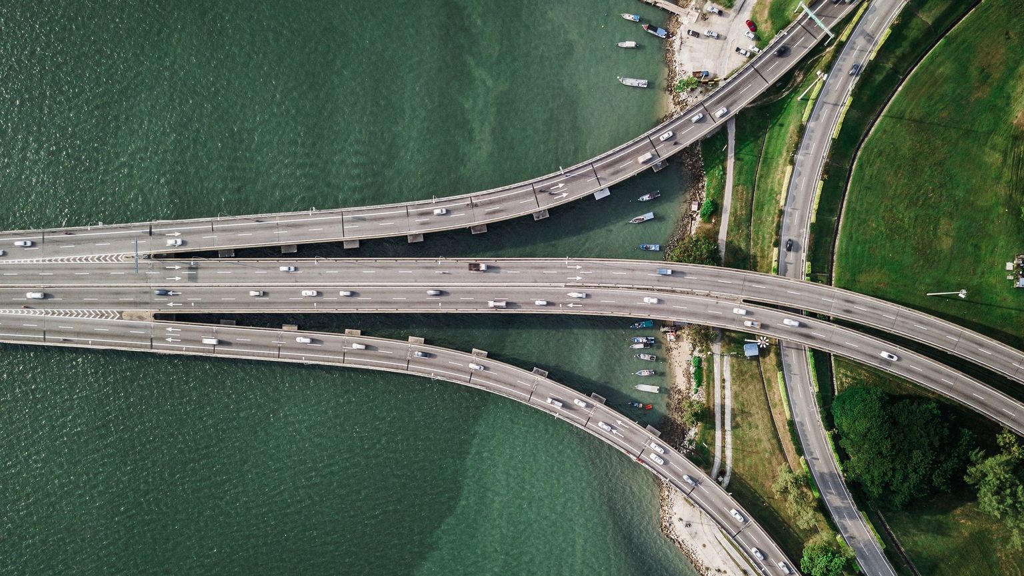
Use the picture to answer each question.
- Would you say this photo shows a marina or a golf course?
marina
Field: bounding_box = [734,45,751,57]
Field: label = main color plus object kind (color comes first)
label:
white vehicle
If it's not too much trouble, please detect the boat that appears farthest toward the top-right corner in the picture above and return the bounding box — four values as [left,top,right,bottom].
[643,24,668,37]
